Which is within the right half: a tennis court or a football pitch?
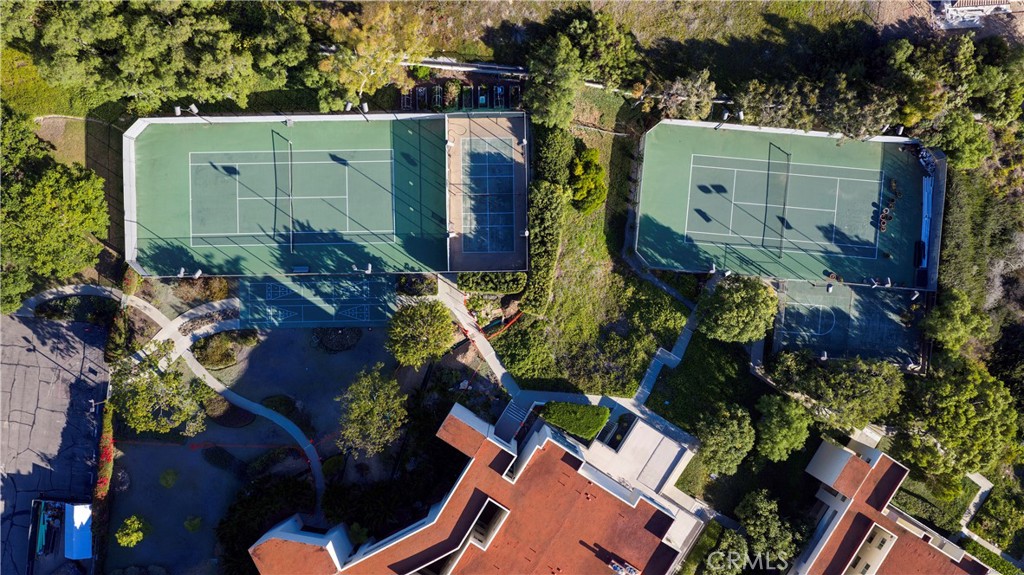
tennis court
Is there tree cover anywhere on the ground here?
Yes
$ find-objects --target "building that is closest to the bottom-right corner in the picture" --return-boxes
[766,438,999,575]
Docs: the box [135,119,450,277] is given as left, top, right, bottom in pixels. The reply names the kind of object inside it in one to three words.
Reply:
tennis court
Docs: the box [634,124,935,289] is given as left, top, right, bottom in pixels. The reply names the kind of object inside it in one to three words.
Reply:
tennis court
